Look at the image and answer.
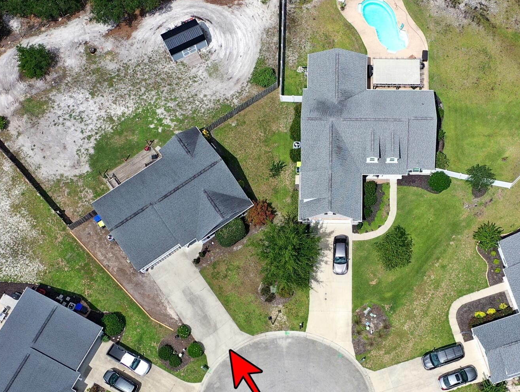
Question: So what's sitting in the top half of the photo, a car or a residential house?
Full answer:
You can see a residential house in the top half of the photo.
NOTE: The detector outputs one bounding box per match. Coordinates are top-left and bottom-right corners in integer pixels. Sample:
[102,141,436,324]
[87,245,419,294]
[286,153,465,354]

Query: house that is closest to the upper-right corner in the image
[298,47,437,223]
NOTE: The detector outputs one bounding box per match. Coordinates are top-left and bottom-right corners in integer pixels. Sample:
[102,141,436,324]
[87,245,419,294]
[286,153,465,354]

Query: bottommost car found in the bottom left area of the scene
[101,367,143,392]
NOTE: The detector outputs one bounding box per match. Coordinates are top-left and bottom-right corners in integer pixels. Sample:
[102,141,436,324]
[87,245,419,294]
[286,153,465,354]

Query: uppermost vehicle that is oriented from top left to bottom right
[103,340,154,377]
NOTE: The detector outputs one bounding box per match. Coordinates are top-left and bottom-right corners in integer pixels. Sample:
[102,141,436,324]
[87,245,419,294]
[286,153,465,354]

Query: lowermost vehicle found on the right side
[439,365,478,391]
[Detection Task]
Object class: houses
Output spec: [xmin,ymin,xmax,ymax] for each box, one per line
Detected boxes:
[470,232,520,384]
[0,287,104,392]
[91,126,254,274]
[298,47,437,223]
